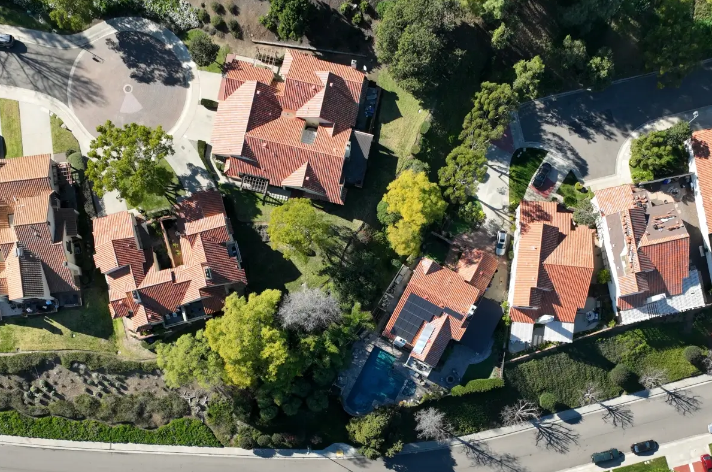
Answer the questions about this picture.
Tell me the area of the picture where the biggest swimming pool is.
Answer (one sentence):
The biggest swimming pool is in the bottom part of the image.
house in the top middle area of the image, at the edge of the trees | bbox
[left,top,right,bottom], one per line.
[211,48,381,206]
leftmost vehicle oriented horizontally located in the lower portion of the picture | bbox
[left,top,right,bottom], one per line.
[591,448,620,464]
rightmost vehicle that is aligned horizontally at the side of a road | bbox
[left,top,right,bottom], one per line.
[630,439,657,454]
